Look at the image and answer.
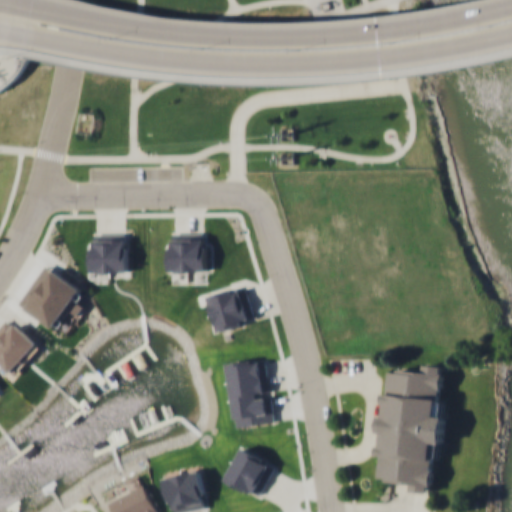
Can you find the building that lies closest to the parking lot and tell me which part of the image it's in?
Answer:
bottom right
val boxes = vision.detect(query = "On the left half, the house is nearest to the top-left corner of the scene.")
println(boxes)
[86,234,130,273]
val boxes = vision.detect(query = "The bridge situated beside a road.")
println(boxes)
[0,0,512,85]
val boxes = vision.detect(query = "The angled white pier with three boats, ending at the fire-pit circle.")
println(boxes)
[130,409,204,438]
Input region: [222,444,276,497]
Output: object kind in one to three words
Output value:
house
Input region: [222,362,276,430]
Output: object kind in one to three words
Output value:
house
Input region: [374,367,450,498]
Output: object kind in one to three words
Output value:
building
